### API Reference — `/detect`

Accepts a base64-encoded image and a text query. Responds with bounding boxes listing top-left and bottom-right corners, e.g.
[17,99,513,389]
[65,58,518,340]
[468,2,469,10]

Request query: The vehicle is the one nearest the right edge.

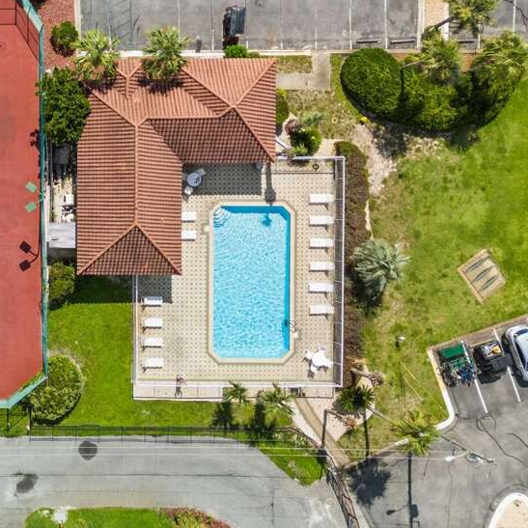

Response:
[503,327,528,383]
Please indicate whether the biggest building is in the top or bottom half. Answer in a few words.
top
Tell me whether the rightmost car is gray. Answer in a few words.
Yes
